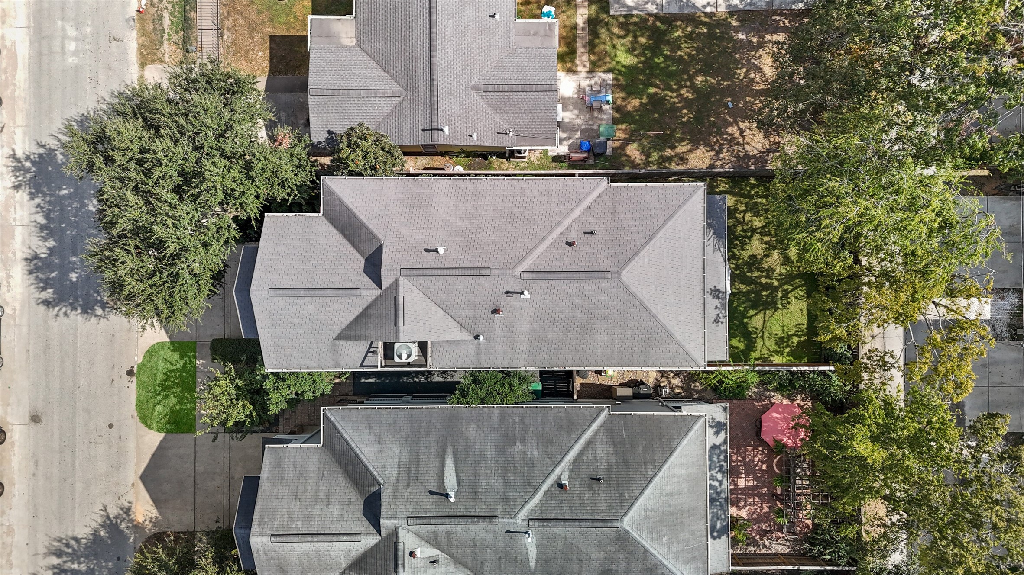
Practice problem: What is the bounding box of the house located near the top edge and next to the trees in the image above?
[306,0,562,150]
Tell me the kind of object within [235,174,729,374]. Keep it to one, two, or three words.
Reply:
house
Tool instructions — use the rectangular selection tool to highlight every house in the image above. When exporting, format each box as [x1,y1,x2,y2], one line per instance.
[306,0,562,150]
[235,174,729,374]
[235,395,729,575]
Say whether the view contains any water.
No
